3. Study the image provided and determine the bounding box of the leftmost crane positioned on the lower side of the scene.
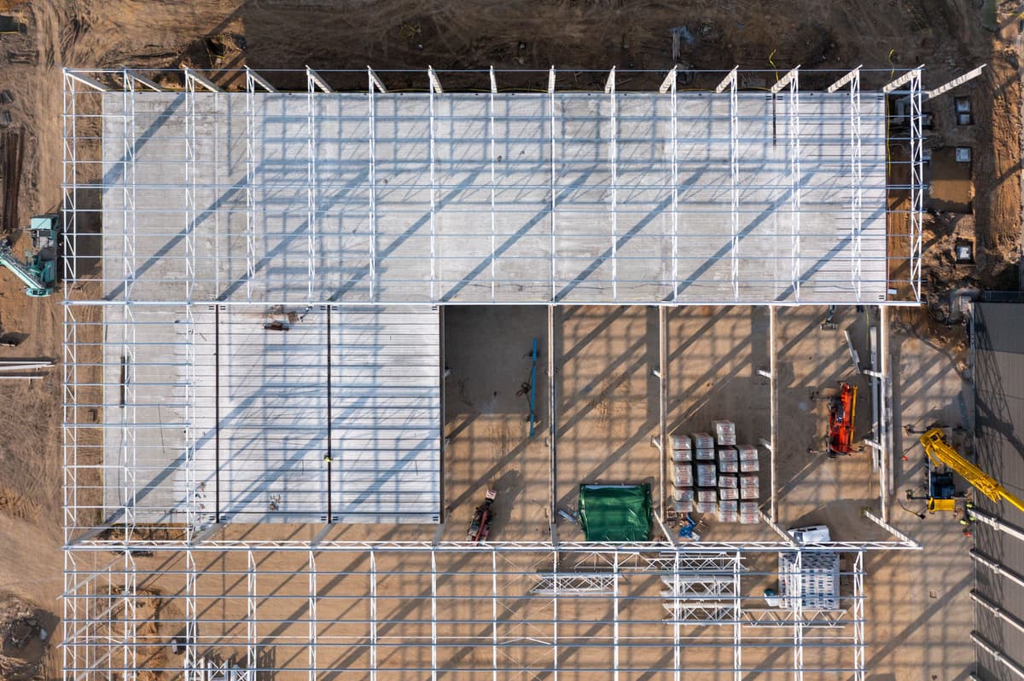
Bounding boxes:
[805,381,862,456]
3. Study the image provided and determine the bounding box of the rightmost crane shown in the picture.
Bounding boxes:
[901,417,1024,518]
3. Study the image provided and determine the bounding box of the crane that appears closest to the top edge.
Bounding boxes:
[0,213,64,297]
